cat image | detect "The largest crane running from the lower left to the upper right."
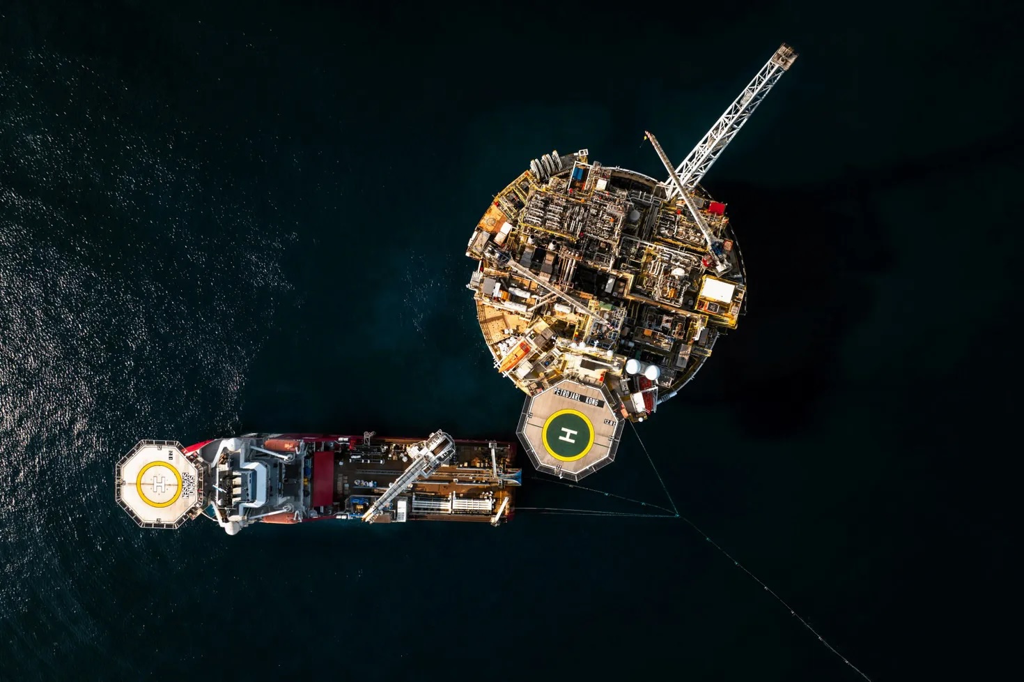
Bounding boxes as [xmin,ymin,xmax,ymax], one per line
[357,429,456,529]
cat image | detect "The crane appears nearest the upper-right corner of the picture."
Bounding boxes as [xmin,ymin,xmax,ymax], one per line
[641,131,741,284]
